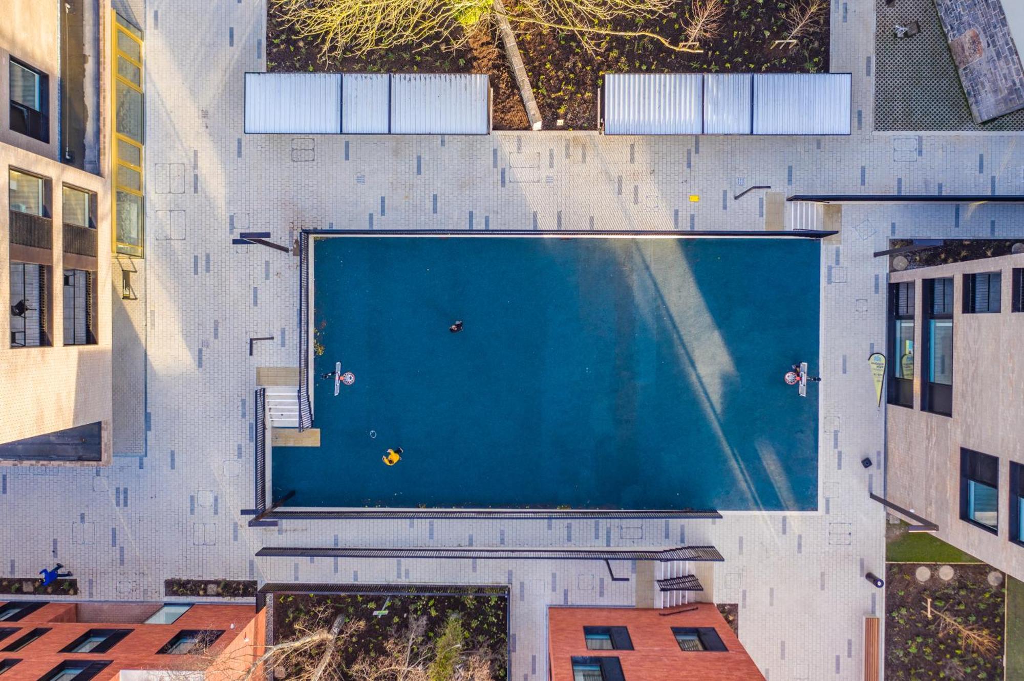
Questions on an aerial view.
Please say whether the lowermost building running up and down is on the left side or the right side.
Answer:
right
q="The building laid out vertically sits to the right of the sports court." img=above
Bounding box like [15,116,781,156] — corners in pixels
[886,251,1024,582]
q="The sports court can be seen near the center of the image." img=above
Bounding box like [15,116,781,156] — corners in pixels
[272,238,820,511]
